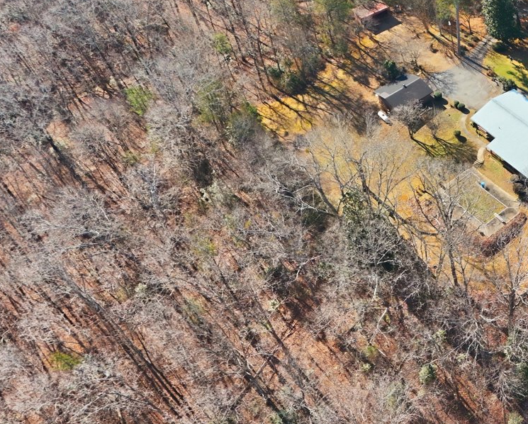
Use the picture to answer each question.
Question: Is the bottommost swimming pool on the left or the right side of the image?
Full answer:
The bottommost swimming pool appears in the right half of the scene.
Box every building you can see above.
[470,90,528,183]
[375,73,433,121]
[352,0,391,28]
